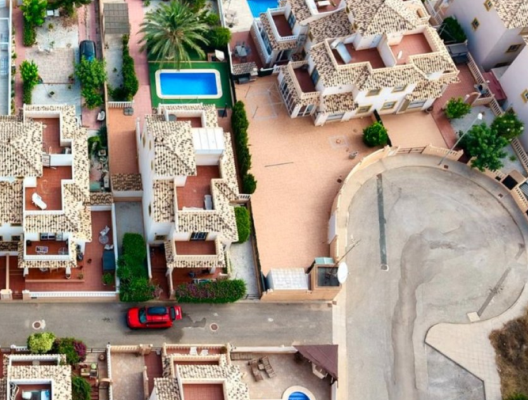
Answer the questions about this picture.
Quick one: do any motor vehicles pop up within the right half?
No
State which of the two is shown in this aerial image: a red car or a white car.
red car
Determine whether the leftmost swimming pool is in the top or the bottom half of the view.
top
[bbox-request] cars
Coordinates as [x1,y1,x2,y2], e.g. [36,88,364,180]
[123,304,189,335]
[77,40,98,63]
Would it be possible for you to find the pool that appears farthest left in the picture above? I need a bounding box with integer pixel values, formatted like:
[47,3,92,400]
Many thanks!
[157,68,223,100]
